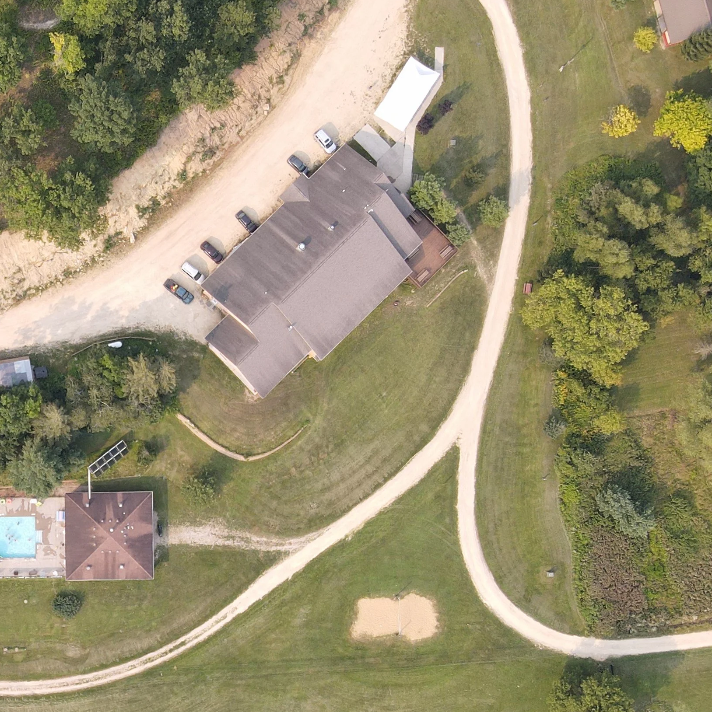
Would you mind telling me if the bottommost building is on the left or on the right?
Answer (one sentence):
The bottommost building is on the left side of the image.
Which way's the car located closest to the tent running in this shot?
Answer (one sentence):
The car located closest to the tent runs diagonally in the image.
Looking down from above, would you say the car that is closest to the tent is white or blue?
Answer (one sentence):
The color of the car that is closest to the tent is white.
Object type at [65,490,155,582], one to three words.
building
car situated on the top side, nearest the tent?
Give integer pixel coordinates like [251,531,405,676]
[313,128,337,155]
